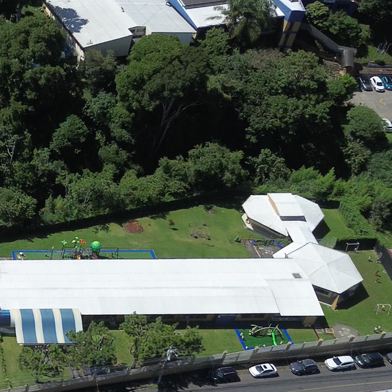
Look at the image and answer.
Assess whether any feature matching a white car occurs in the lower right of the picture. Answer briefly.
Yes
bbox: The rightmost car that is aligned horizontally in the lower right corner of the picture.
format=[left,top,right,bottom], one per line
[353,352,386,368]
